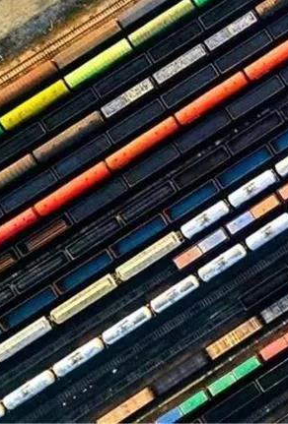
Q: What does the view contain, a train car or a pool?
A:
train car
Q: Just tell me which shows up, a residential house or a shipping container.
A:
shipping container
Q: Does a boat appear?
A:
Yes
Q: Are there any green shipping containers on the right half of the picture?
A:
Yes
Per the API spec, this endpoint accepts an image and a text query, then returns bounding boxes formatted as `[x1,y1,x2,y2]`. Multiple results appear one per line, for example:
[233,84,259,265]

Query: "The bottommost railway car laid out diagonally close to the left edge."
[4,368,59,409]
